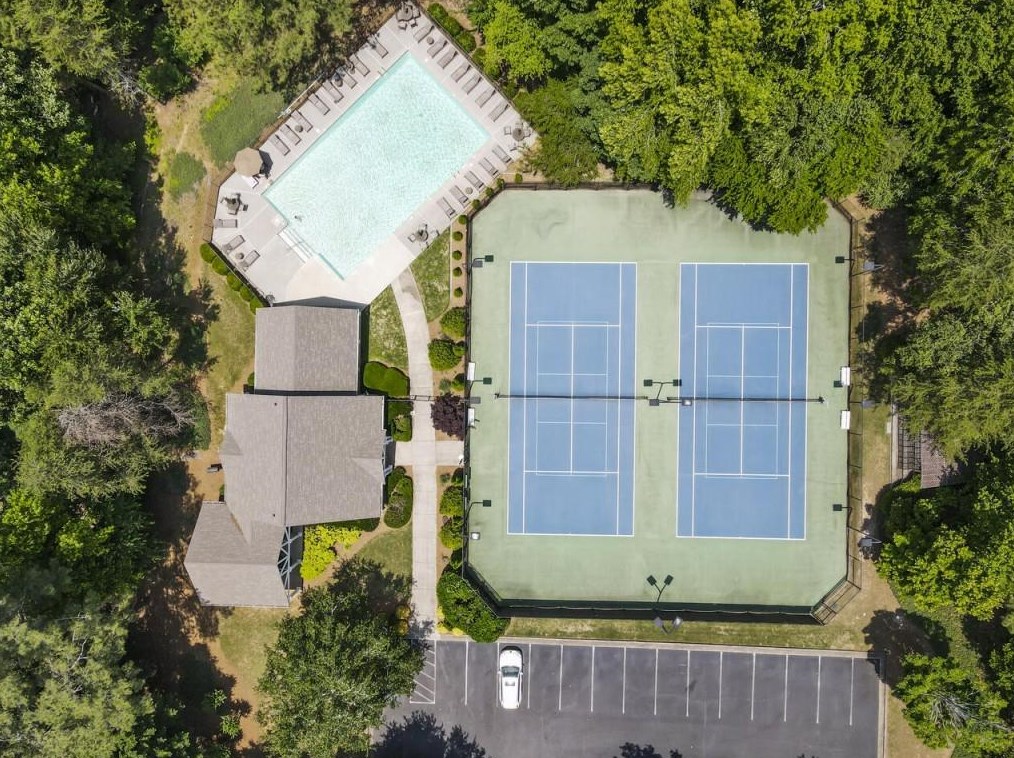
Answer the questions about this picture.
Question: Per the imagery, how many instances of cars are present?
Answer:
1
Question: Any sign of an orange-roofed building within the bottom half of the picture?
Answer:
No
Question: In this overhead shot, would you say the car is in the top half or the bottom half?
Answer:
bottom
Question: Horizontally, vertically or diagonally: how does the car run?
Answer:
vertically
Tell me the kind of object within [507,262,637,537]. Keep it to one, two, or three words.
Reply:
tennis court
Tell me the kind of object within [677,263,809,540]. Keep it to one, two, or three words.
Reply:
tennis court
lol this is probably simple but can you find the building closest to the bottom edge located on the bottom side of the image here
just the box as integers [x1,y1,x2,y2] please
[186,395,403,607]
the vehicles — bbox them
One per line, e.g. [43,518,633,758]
[498,649,525,712]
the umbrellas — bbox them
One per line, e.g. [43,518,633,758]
[235,149,263,177]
